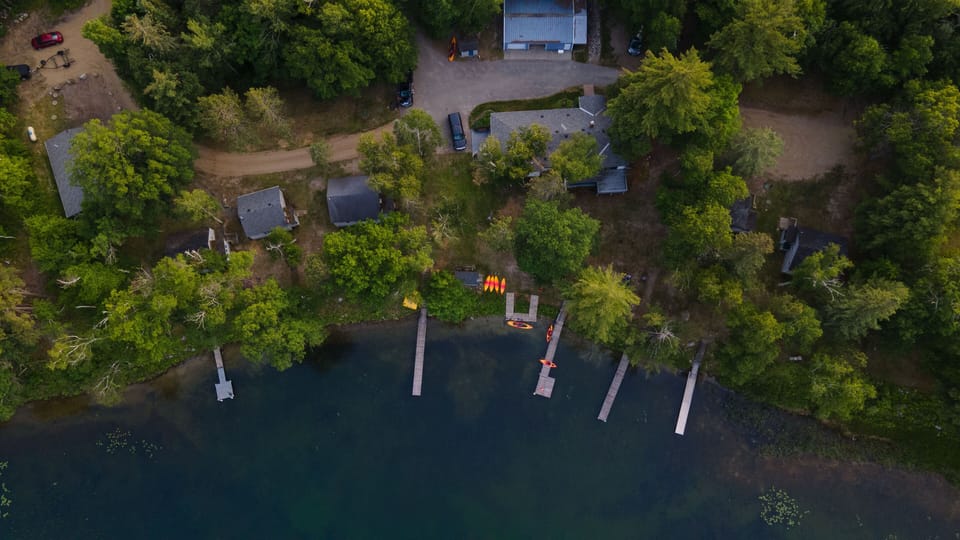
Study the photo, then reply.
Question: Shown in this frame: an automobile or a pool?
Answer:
automobile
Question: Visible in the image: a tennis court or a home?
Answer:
home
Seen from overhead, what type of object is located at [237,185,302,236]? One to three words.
house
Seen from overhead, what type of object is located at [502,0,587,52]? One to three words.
building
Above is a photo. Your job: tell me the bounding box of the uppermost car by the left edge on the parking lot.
[26,28,63,49]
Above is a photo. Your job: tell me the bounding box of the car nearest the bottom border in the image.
[447,109,467,150]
